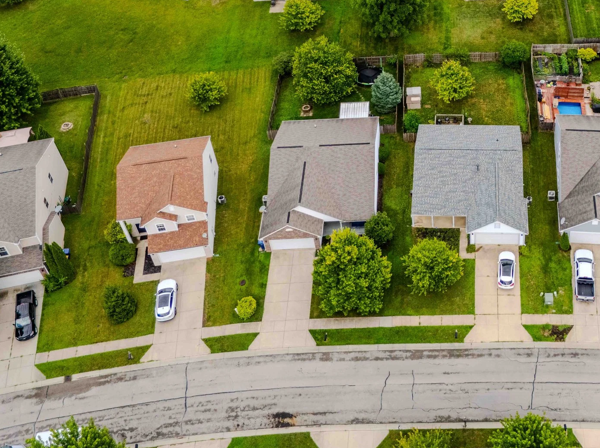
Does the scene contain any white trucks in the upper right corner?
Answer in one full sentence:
No, there is no white truck in the upper right corner.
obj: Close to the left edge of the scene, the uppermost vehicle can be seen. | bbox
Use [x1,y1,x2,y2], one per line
[12,287,40,344]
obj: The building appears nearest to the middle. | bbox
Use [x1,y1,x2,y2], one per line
[258,119,378,257]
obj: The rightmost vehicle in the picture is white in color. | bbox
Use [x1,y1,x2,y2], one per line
[574,250,596,302]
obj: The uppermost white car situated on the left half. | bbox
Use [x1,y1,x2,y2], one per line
[154,281,180,322]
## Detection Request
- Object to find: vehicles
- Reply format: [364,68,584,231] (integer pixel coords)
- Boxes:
[574,250,596,302]
[496,251,517,291]
[33,427,59,448]
[154,281,180,322]
[12,287,40,344]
